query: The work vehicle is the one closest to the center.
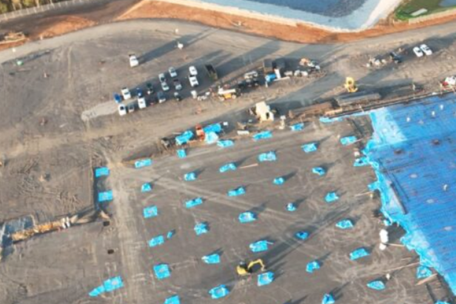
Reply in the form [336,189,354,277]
[195,122,212,137]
